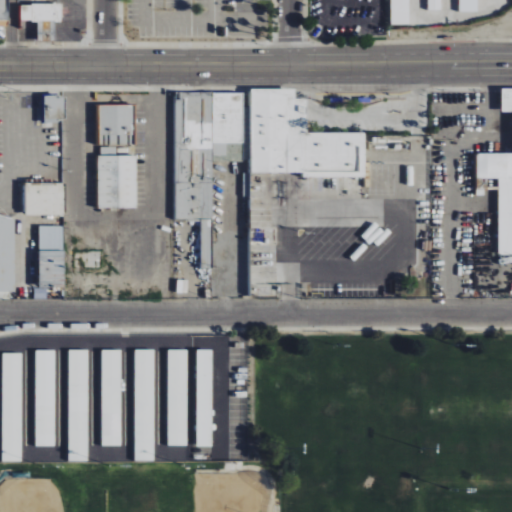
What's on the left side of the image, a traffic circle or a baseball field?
baseball field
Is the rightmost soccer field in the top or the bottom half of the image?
bottom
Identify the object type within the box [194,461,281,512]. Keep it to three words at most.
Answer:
baseball field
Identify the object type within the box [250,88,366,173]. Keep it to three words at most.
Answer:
building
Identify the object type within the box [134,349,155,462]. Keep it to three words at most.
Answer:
building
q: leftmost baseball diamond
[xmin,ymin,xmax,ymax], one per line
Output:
[0,461,194,512]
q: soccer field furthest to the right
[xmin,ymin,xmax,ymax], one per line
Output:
[252,335,512,512]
